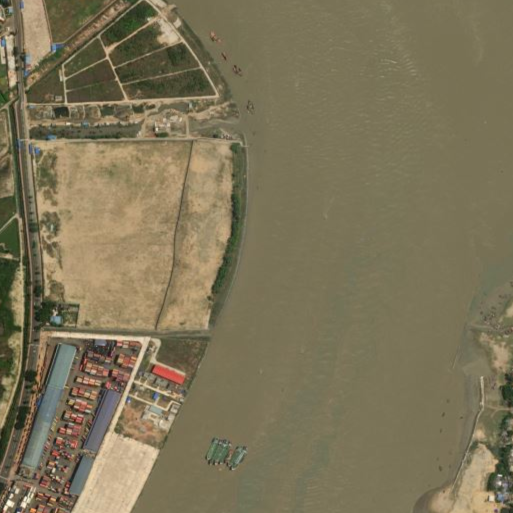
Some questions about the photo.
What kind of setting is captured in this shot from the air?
port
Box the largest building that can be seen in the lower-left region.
[21,343,76,470]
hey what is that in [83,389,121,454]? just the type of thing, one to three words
building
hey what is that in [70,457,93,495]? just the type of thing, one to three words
building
